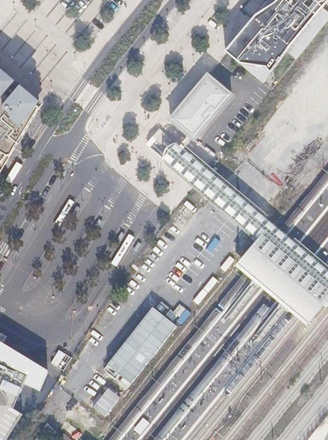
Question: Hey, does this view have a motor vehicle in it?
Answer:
Yes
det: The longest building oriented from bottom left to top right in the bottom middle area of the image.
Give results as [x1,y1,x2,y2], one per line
[104,306,176,390]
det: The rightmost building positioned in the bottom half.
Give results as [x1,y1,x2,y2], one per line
[234,233,328,328]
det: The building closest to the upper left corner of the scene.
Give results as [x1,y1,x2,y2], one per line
[0,68,44,154]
